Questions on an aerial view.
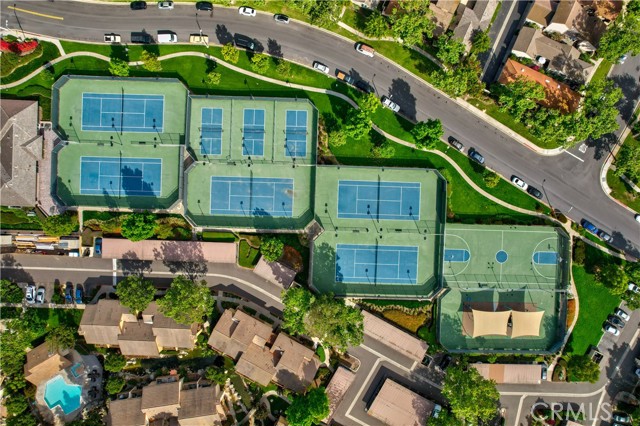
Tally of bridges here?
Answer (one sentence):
I count no bridges.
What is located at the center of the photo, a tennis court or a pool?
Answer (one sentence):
It is a tennis court that can be seen at the center of the photo.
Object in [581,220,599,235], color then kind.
blue car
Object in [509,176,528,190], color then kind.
white car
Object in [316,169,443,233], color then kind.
green tennis court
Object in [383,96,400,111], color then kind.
white car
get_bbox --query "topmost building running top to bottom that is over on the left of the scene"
[0,99,46,206]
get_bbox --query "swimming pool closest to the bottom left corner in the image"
[44,374,81,415]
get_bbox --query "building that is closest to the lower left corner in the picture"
[27,343,76,386]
